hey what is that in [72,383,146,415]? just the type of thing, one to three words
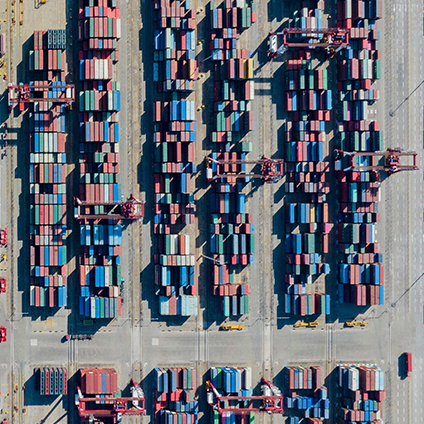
container crane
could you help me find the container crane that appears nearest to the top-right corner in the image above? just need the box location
[270,29,351,57]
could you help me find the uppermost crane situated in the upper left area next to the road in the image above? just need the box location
[4,84,76,110]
